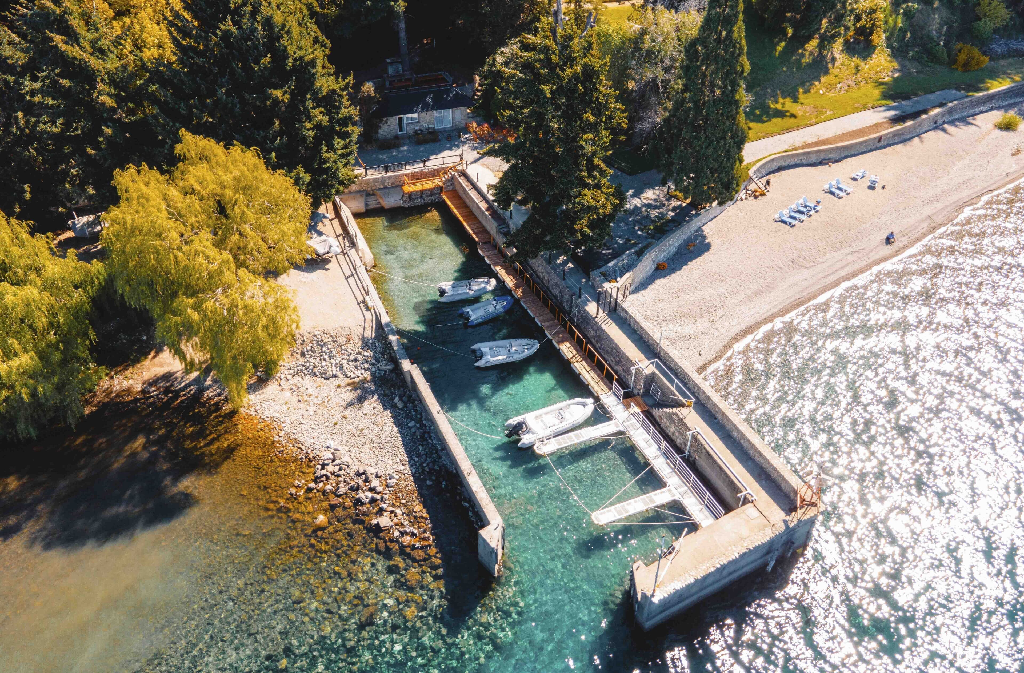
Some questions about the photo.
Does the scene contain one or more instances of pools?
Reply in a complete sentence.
No, I find no pool anywhere in the image.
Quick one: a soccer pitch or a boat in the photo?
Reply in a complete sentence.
Of the two, only a boat appears.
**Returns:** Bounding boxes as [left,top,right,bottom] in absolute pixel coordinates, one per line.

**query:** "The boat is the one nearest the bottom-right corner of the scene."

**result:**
[499,397,597,450]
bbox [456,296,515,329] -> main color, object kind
blue boat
